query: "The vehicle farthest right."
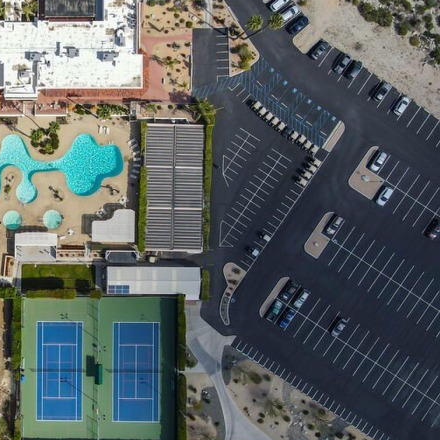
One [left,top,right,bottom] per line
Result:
[428,220,440,238]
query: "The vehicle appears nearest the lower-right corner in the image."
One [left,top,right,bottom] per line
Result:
[332,318,349,337]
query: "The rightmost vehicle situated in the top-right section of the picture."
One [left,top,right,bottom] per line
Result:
[396,96,412,113]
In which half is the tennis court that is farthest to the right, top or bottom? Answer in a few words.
bottom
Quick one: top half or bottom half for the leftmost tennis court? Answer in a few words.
bottom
